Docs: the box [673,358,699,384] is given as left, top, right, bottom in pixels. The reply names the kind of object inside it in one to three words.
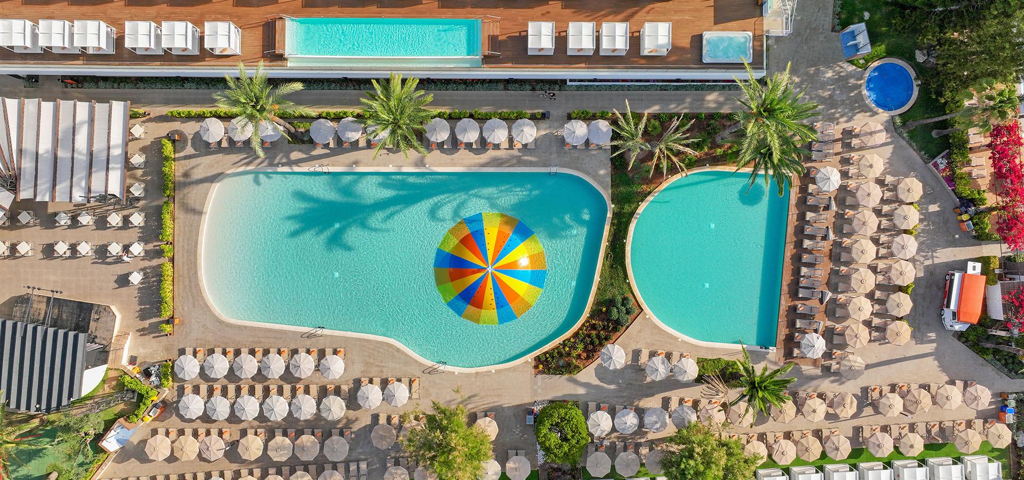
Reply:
umbrella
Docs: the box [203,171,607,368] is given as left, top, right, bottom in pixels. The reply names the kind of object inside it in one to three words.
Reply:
swimming pool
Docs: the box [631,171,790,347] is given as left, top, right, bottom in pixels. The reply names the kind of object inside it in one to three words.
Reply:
swimming pool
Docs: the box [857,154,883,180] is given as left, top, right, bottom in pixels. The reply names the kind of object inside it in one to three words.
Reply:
umbrella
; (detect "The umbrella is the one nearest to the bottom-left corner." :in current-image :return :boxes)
[144,434,170,459]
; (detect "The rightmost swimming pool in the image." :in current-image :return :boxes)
[867,63,914,110]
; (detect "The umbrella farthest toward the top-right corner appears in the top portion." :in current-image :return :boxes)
[859,119,886,145]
